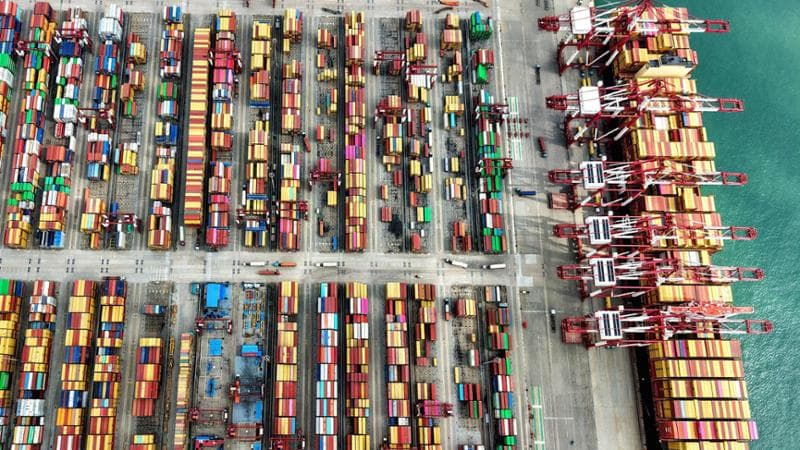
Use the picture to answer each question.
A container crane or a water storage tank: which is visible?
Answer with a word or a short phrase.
container crane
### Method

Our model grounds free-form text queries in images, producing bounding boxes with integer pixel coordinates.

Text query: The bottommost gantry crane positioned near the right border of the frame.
[563,299,774,352]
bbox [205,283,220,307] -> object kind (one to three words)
shed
